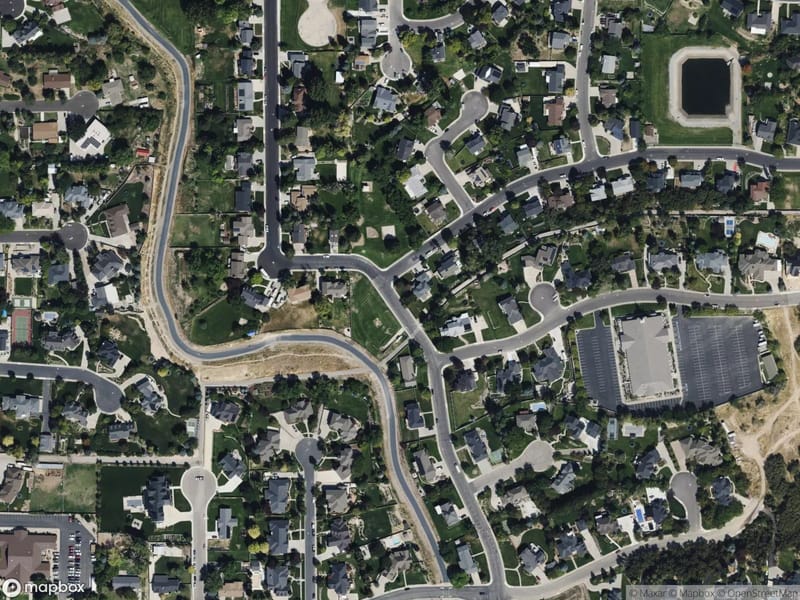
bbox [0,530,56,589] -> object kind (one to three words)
building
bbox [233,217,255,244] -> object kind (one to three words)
house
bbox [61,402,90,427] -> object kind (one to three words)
house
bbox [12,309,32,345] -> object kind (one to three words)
tennis court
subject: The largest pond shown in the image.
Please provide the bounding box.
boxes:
[670,46,742,128]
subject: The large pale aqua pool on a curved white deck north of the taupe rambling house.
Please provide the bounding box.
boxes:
[757,231,778,253]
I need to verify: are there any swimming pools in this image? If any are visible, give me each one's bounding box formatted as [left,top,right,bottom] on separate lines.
[635,504,647,530]
[123,496,144,512]
[381,533,411,548]
[530,402,546,412]
[757,231,778,253]
[41,312,59,323]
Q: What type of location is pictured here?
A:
residential area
